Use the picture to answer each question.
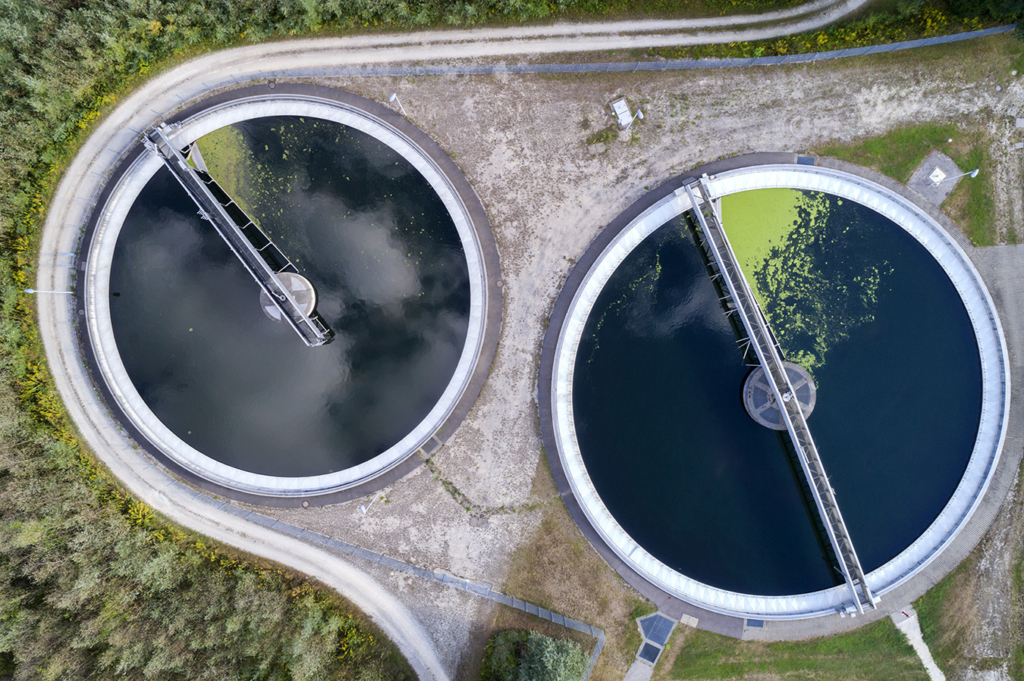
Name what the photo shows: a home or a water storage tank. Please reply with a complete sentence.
The one in the frame is a water storage tank.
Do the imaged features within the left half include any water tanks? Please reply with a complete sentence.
Yes, a water tank is visible within the left half.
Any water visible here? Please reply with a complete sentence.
Yes, water can be seen from above here.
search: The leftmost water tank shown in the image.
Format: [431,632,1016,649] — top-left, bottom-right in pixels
[84,91,488,495]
